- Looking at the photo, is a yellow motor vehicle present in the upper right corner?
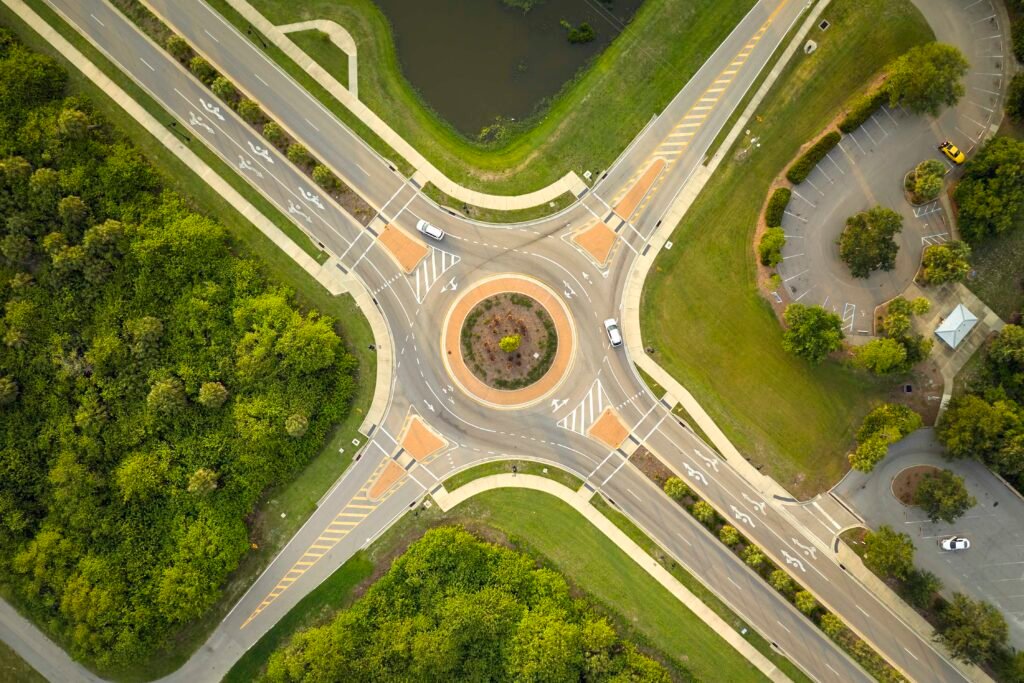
Yes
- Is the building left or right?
right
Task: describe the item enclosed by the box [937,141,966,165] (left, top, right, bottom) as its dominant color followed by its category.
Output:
yellow car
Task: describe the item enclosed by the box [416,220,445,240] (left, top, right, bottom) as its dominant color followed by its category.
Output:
white car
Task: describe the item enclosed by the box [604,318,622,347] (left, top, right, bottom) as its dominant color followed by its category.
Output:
white car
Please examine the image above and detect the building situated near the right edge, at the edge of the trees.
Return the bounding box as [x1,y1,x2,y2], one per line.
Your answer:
[928,304,978,348]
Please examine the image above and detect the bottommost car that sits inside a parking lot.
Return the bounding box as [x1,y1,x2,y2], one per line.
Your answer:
[940,533,970,551]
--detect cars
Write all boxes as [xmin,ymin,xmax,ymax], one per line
[940,533,970,551]
[604,318,622,347]
[416,220,445,240]
[937,141,966,165]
